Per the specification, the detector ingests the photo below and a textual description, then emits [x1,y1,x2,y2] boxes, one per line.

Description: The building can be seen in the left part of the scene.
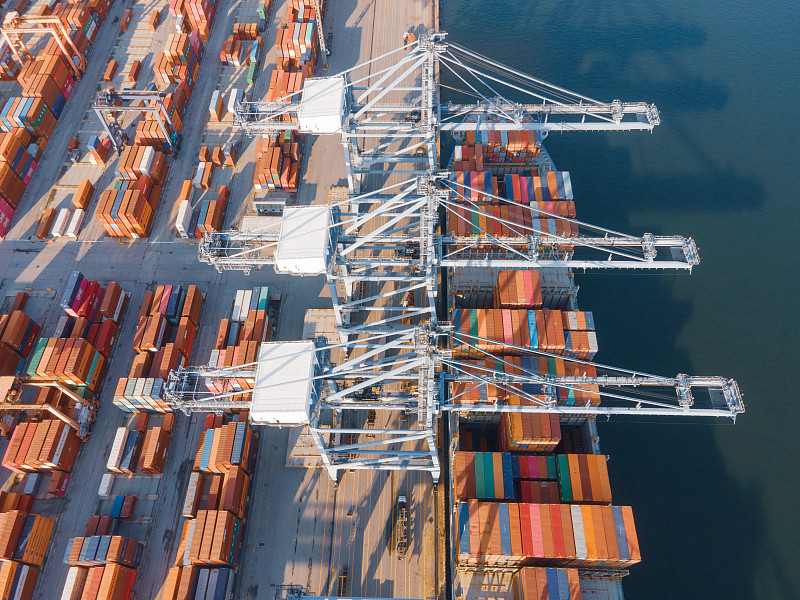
[247,196,285,216]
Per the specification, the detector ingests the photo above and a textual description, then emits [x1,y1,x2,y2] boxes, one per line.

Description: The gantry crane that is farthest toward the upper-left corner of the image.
[0,15,88,80]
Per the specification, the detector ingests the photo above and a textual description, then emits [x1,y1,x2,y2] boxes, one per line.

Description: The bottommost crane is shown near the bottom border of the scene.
[218,577,437,600]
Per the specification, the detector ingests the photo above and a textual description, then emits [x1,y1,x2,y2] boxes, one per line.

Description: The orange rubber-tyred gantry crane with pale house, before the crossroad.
[0,375,94,438]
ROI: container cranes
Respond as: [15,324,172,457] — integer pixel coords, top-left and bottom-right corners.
[91,91,180,155]
[0,375,94,438]
[0,15,88,80]
[218,577,437,600]
[230,23,665,230]
[161,312,749,497]
[196,163,707,365]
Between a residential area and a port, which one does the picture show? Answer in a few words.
port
